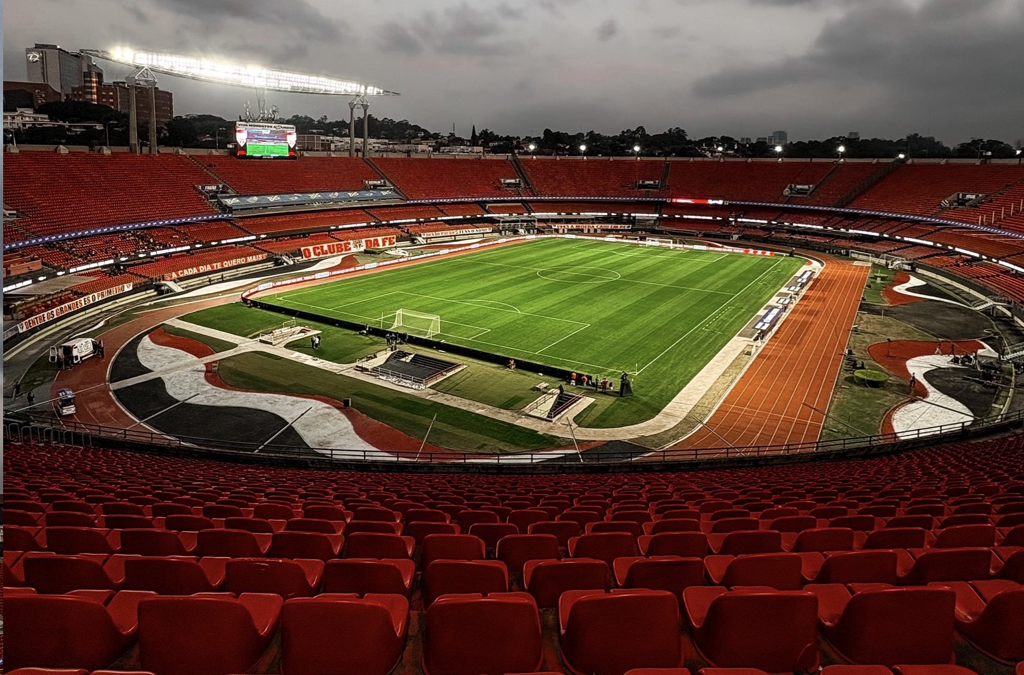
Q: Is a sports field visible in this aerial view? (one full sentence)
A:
Yes, the picture does show a sports field.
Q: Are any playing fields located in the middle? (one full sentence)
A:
Yes, looking in the middle, one can make out a playing field.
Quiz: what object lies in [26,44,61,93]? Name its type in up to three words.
building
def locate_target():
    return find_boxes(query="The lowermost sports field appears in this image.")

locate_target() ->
[227,237,803,408]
